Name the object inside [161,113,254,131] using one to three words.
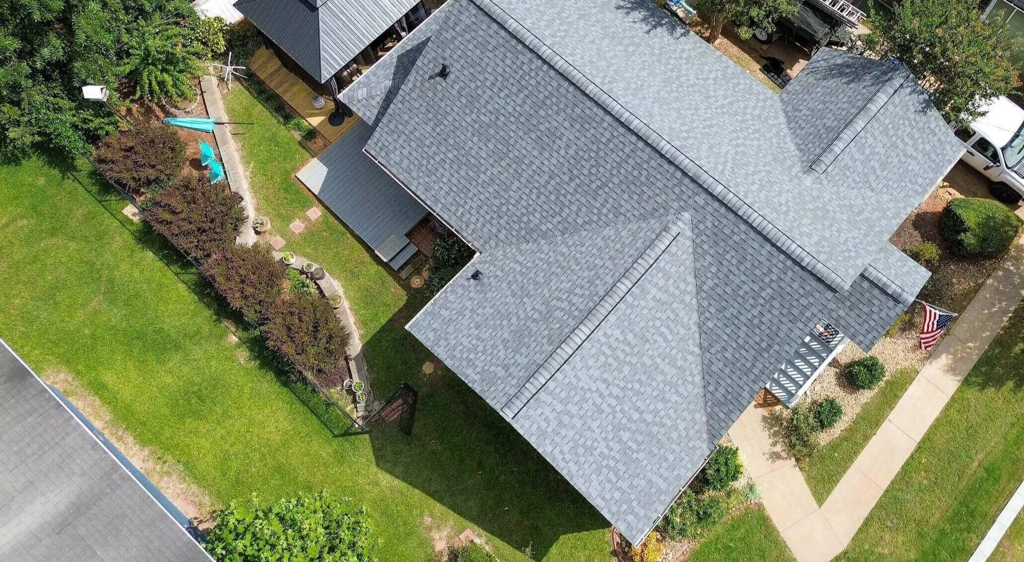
umbrella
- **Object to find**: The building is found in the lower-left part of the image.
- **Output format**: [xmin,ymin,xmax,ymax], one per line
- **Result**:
[0,336,220,562]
